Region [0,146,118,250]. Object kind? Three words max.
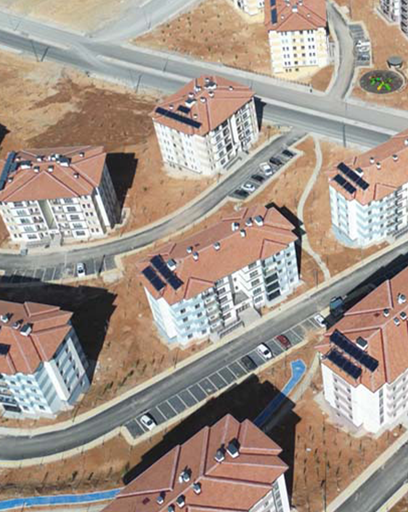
building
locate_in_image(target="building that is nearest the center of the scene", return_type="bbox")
[135,202,302,346]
